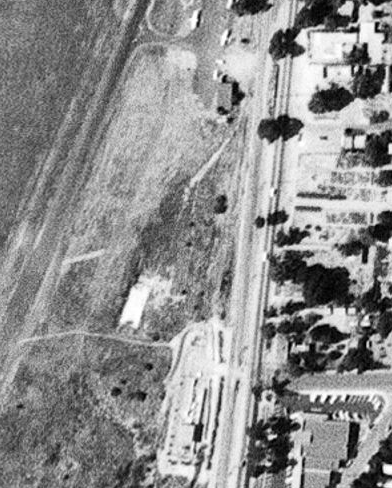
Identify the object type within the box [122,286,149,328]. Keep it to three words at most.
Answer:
shed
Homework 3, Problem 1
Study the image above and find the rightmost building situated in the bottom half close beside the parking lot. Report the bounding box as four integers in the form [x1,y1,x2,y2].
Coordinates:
[305,416,351,488]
